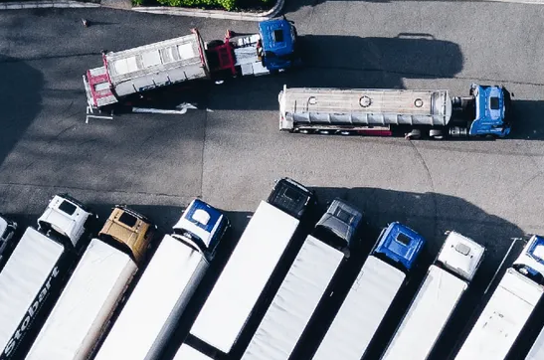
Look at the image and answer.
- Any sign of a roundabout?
No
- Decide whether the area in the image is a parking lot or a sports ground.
parking lot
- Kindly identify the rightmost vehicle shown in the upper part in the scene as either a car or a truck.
truck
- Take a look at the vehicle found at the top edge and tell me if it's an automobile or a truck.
truck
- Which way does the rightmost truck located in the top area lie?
from left to right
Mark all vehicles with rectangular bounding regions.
[174,172,323,360]
[312,217,433,360]
[0,190,97,360]
[240,193,374,360]
[0,215,26,275]
[96,194,235,360]
[378,229,493,360]
[455,231,544,360]
[25,202,160,360]
[78,15,306,128]
[275,80,508,143]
